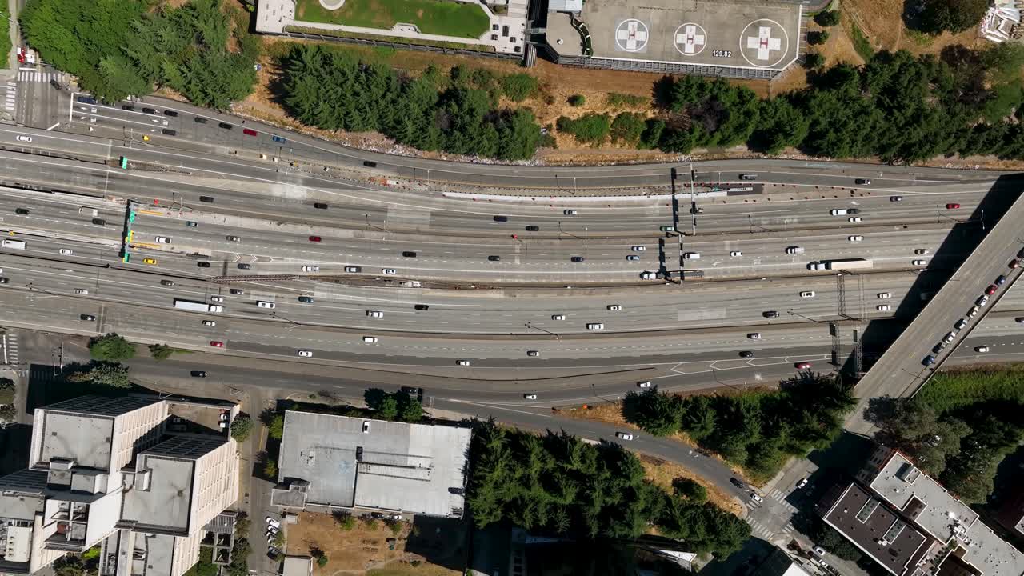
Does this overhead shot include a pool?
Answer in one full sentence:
No, I can see no pool in this picture.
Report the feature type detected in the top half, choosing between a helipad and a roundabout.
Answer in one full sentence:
Looking in the top half, you will find a helipad.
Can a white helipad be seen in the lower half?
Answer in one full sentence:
No, there is no white helipad in the lower half.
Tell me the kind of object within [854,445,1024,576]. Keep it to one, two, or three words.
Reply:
building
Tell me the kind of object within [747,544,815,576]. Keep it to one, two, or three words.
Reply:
building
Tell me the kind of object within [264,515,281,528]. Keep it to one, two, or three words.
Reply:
vehicle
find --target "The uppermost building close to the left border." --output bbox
[30,393,165,472]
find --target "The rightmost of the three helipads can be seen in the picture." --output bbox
[740,19,788,67]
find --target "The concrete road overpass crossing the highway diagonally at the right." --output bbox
[848,195,1024,402]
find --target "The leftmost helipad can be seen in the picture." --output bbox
[615,18,649,52]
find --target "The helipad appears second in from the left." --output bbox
[674,23,706,56]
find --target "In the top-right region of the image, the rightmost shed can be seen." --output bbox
[981,0,1020,42]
